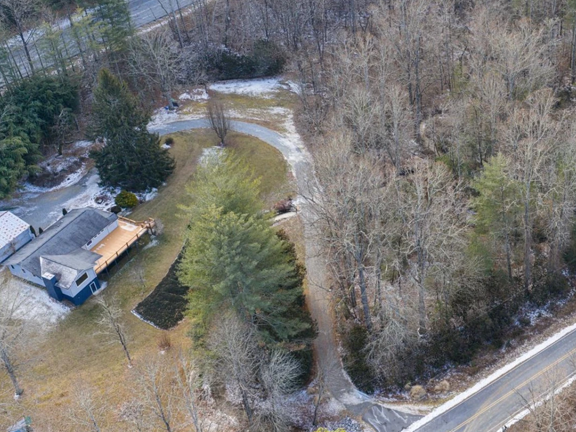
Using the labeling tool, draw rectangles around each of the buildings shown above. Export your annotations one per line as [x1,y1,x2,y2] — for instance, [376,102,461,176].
[0,211,32,260]
[3,207,161,306]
